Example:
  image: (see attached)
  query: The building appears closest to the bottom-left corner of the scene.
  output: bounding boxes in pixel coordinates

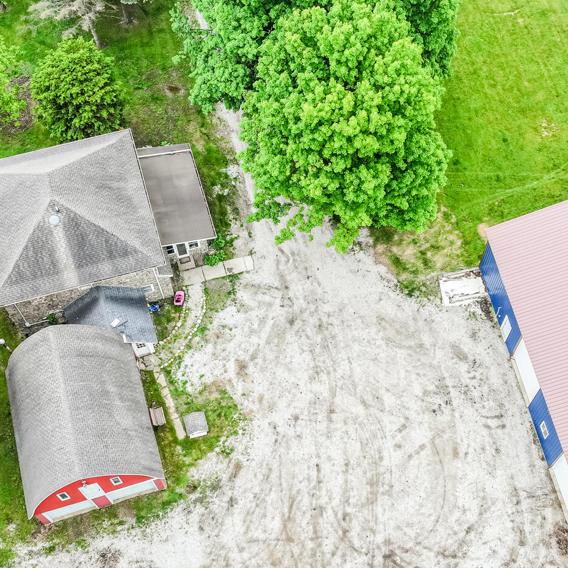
[4,322,166,523]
